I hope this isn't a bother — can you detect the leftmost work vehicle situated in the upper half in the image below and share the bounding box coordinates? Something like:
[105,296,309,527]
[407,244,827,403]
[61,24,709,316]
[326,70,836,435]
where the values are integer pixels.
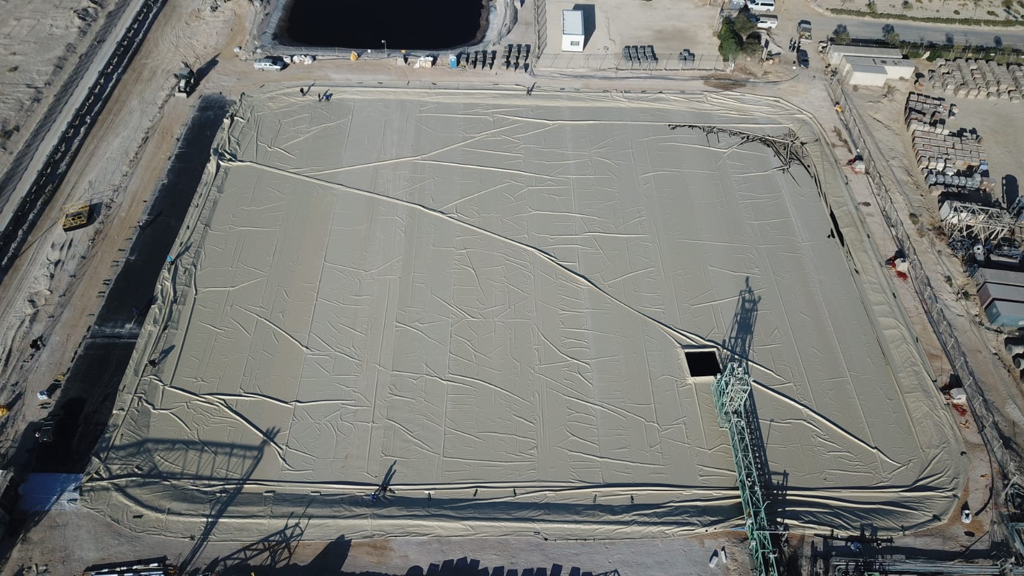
[168,60,193,96]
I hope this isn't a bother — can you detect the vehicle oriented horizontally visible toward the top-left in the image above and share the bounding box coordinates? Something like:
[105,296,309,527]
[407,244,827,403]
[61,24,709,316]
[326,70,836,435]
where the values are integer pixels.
[251,55,285,70]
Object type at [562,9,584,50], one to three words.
building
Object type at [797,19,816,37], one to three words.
vehicle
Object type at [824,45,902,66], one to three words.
building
